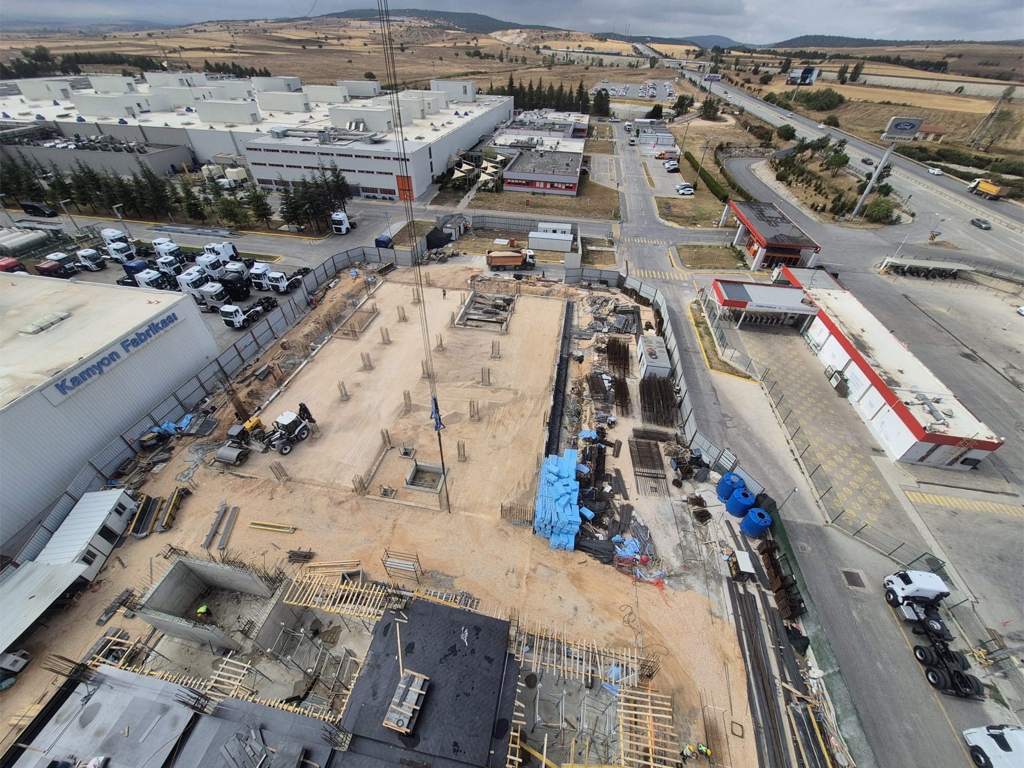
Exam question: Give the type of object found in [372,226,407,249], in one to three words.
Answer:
truck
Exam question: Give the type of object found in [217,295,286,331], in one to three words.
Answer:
truck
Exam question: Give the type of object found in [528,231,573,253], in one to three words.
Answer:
building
